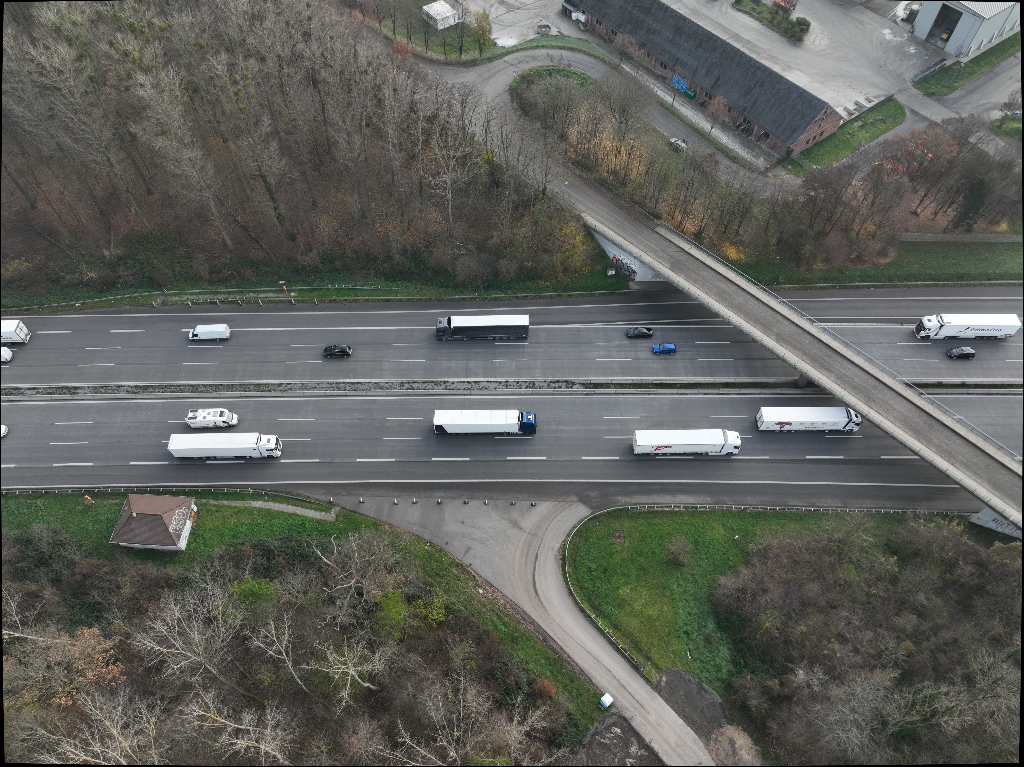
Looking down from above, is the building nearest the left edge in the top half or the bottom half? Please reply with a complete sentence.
The bottom half of the photo is where the building nearest the left edge is.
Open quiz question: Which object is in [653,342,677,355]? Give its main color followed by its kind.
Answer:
blue vehicle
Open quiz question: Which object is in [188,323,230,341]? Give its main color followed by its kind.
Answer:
white vehicle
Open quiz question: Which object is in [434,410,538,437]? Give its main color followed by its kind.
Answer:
white truck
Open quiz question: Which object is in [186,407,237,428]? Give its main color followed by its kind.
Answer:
white camper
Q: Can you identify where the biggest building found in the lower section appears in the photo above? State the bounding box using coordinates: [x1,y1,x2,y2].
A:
[109,494,199,551]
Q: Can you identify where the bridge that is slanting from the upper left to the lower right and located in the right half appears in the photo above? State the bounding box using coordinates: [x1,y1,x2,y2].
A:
[568,165,1024,541]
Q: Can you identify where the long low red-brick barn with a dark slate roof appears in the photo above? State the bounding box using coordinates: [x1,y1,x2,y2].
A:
[563,0,847,155]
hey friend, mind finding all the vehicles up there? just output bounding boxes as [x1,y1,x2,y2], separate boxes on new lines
[167,433,283,461]
[949,346,977,359]
[913,313,1021,339]
[434,410,538,437]
[0,425,9,437]
[435,314,529,340]
[755,407,866,434]
[653,342,677,355]
[0,349,13,361]
[0,320,31,346]
[186,407,237,428]
[323,346,351,358]
[626,326,654,338]
[632,430,742,457]
[188,323,230,341]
